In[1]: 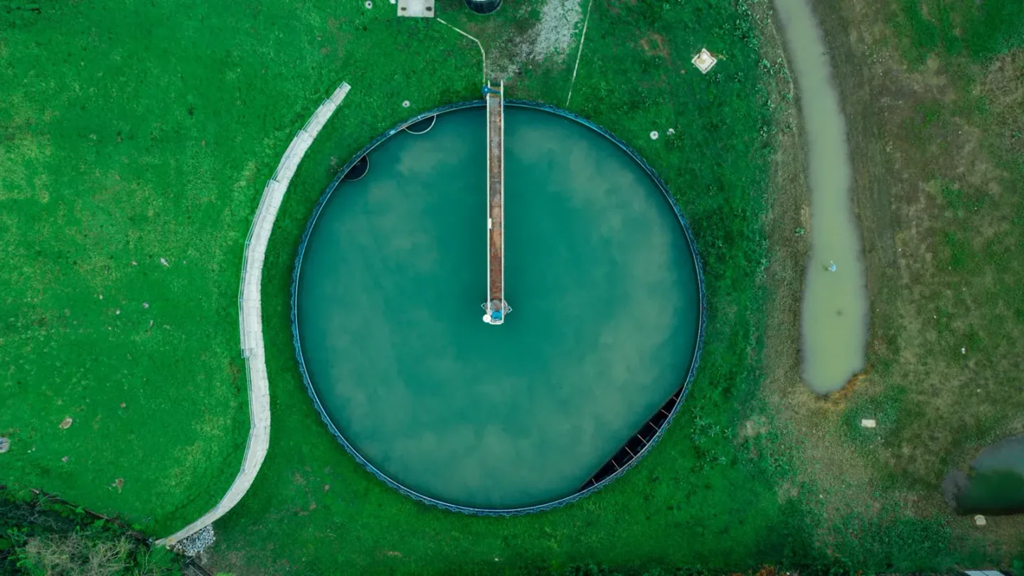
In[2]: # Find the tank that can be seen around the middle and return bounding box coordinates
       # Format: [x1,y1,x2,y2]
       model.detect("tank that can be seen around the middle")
[292,101,705,515]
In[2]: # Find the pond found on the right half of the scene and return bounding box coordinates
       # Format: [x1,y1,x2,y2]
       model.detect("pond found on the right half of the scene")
[942,433,1024,515]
